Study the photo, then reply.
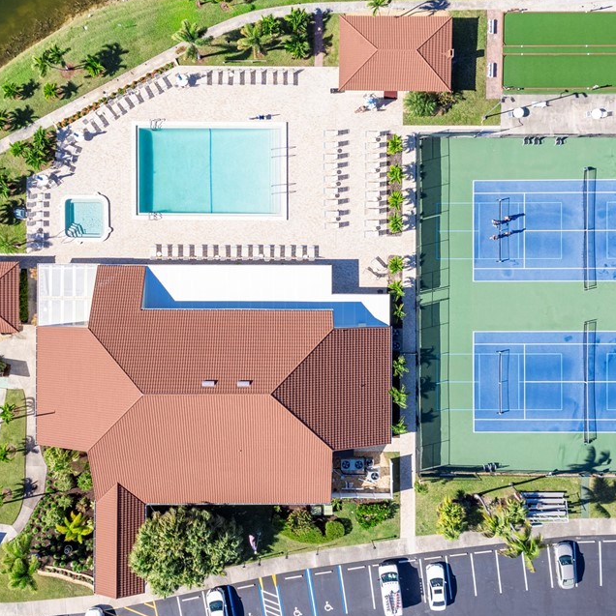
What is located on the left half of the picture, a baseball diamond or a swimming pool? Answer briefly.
swimming pool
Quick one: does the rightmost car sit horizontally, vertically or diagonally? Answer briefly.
vertically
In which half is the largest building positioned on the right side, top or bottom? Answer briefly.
top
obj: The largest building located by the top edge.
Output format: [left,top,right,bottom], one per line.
[339,14,455,100]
